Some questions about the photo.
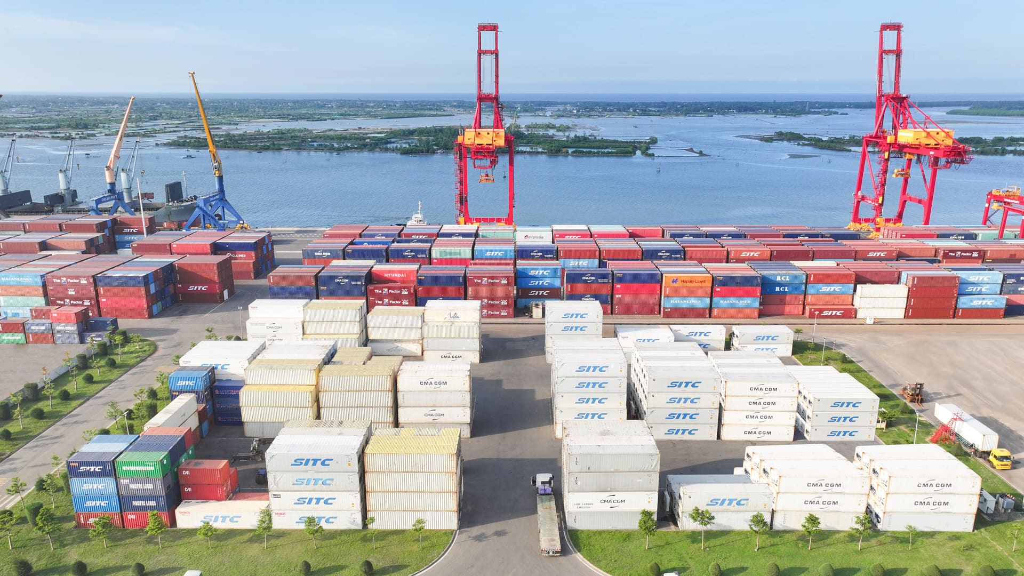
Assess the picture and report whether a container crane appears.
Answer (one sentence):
Yes, there is a container crane in the image.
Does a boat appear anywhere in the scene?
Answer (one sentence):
Yes, I can see a boat in this picture.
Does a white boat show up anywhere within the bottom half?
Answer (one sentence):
No, no white boat can be made out within the bottom half.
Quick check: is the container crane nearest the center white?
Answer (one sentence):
No, the color of the container crane nearest the center is red.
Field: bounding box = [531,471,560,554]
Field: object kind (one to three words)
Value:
truck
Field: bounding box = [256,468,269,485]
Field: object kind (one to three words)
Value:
vehicle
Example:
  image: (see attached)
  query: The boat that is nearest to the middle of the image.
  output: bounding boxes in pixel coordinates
[392,201,436,227]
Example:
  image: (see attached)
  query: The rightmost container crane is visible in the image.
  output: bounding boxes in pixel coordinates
[985,187,1024,239]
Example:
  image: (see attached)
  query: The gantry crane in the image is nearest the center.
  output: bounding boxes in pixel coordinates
[453,21,523,239]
